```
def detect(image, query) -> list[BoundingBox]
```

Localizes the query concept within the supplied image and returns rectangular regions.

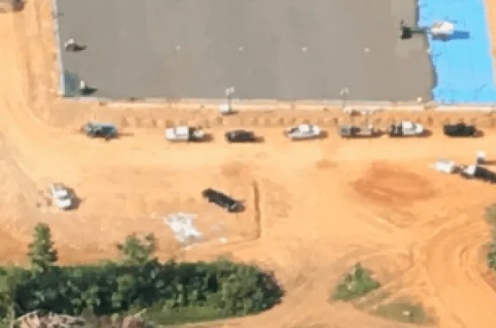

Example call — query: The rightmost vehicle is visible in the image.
[463,163,496,183]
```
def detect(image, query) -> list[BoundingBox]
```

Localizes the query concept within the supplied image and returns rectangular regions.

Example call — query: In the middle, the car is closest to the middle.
[226,129,257,144]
